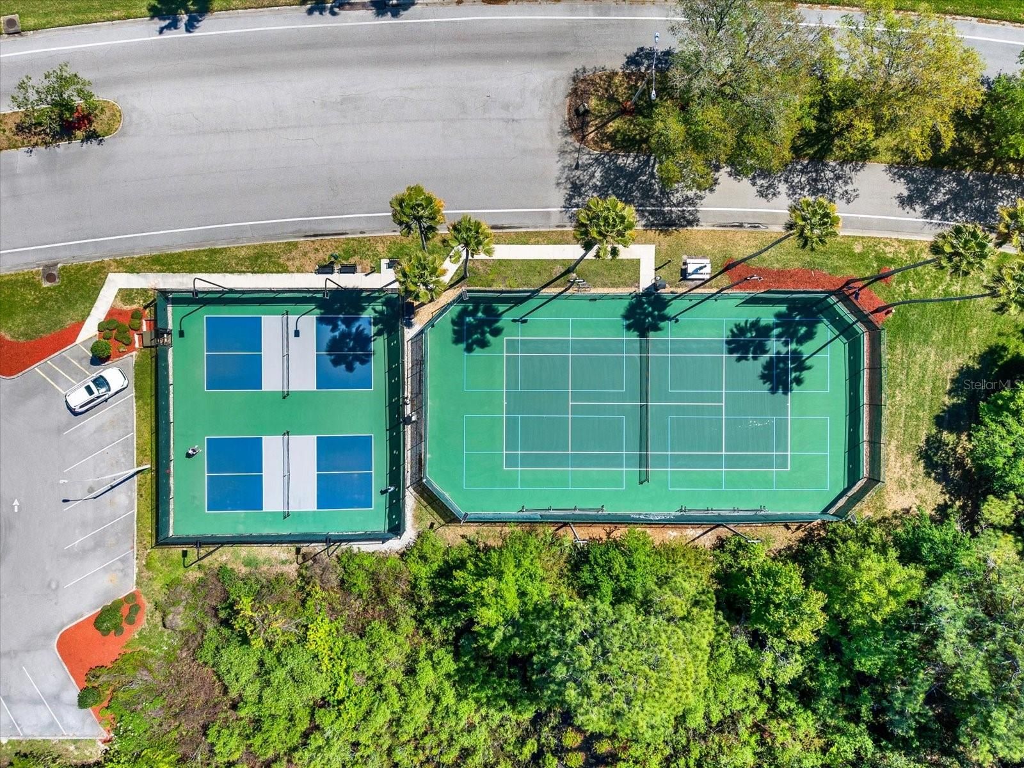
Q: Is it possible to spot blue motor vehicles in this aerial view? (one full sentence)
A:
No, I find no blue motor vehicle anywhere in the image.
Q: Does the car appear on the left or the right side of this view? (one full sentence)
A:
The car sits on the left side.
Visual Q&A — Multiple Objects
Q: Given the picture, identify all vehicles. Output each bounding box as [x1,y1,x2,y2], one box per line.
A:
[65,370,128,413]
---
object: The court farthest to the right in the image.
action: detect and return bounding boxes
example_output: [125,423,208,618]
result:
[427,295,865,513]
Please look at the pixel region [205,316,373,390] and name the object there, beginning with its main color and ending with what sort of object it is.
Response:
blue sports court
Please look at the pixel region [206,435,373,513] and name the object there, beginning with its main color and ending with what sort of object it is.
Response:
blue sports court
